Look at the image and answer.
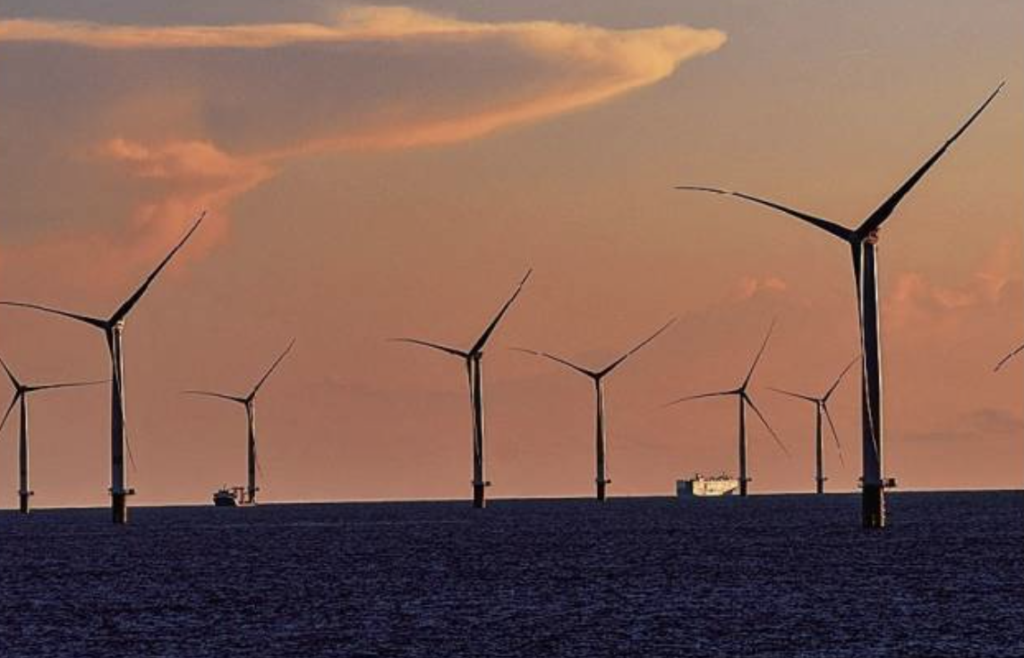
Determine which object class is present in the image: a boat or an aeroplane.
boat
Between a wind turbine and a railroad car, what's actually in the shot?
wind turbine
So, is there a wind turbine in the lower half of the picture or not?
Yes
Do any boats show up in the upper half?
No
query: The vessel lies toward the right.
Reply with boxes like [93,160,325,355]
[678,472,736,497]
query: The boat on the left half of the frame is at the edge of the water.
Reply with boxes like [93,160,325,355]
[214,482,254,507]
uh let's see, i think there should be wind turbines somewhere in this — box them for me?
[664,320,789,496]
[510,319,675,501]
[996,347,1024,370]
[188,340,295,506]
[0,212,205,523]
[388,271,530,507]
[770,360,859,494]
[0,354,106,512]
[680,81,1003,527]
